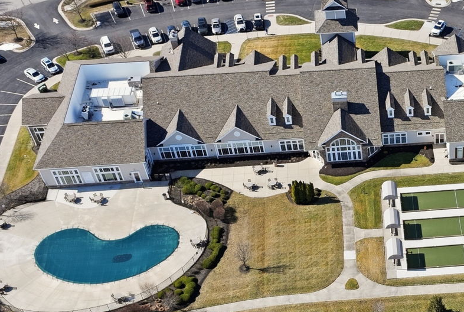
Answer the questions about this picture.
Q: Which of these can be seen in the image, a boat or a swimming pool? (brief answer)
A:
swimming pool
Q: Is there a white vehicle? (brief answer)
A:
Yes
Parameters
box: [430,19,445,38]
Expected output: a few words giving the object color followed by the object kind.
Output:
white car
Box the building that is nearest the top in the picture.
[21,0,464,187]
